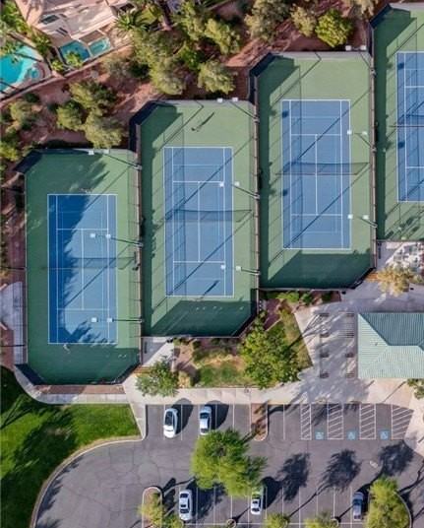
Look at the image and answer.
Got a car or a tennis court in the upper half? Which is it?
tennis court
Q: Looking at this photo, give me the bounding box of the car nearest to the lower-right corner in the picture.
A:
[350,489,364,521]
